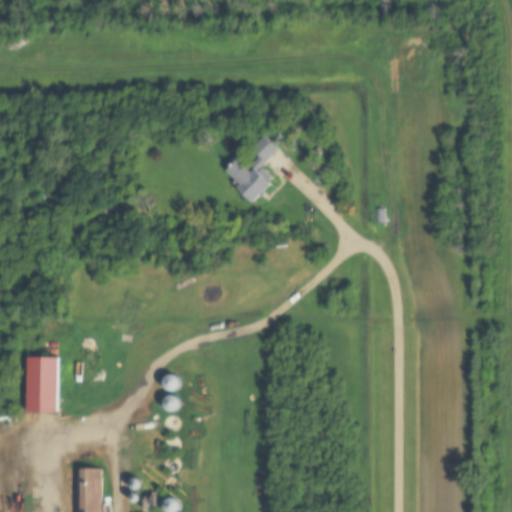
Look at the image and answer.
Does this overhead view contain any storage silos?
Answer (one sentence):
Yes, the image includes a storage silo.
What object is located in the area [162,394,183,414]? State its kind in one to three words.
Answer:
silo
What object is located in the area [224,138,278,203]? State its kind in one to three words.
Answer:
house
